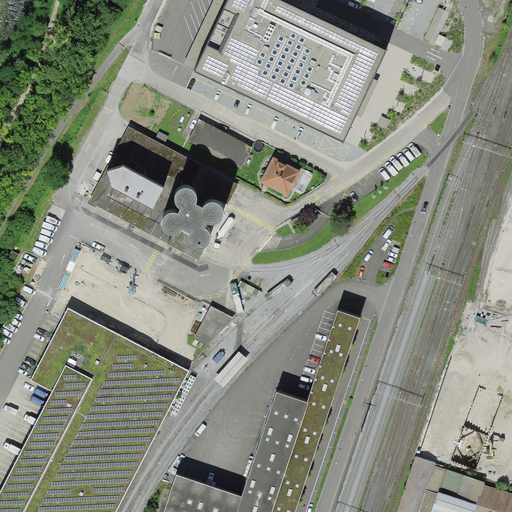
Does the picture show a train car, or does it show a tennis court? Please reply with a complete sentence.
Visible in the photo is a train car.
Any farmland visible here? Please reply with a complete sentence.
No, farmland can't be seen anywhere here.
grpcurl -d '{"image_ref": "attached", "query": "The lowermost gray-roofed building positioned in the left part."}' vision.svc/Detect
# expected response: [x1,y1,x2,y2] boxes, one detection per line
[162,472,242,512]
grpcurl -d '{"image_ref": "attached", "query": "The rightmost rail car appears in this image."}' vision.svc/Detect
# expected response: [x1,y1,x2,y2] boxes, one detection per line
[314,272,338,296]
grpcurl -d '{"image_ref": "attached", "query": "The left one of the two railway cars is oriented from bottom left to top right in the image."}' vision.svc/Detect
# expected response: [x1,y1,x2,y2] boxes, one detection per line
[263,278,294,302]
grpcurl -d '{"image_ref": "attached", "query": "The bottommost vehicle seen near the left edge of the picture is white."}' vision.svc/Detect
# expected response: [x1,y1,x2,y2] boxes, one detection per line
[2,442,21,456]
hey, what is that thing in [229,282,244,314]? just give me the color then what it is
white vehicle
